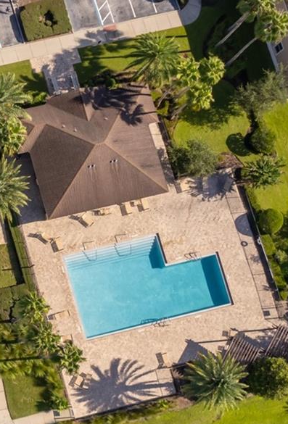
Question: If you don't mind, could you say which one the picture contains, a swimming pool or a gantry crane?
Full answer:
The image shows a swimming pool.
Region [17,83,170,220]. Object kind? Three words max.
building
